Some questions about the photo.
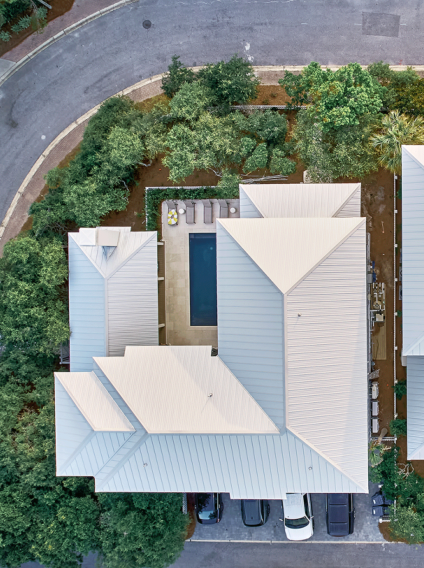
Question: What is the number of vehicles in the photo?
4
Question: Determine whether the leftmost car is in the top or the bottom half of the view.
bottom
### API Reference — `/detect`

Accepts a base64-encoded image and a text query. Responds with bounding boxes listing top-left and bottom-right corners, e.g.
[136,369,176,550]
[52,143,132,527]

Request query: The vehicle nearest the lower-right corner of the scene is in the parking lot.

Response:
[325,493,356,539]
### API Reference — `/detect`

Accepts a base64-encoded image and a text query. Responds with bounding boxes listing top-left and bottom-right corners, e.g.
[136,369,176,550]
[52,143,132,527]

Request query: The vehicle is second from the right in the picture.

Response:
[280,493,315,540]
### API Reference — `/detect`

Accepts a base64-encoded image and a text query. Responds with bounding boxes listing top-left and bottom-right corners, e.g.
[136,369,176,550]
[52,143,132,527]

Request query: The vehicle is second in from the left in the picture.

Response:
[240,500,271,527]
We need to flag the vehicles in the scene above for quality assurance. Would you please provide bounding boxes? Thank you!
[325,493,356,539]
[280,493,315,540]
[240,500,271,527]
[192,493,222,525]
